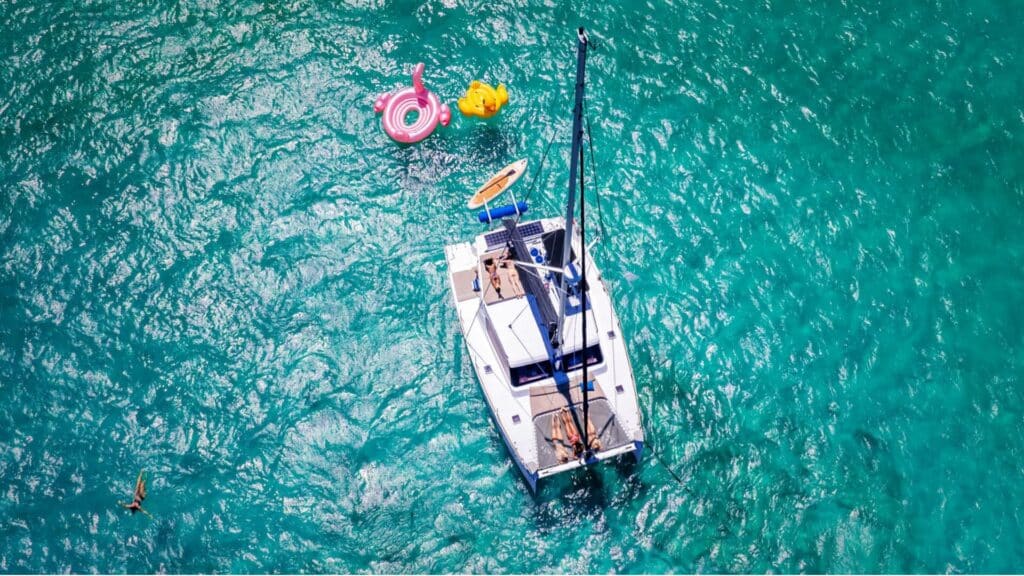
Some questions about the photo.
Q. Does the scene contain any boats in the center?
Yes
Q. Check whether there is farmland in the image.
No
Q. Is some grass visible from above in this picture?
No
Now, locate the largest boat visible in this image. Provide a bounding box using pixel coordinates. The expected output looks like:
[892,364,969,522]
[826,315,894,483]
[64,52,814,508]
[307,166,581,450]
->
[445,24,648,490]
